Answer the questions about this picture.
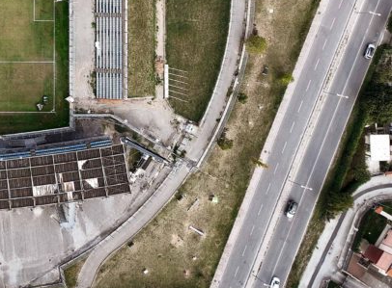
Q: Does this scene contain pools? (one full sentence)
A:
No, I can't see a single pool in this photo.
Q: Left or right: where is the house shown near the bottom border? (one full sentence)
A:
The house shown near the bottom border sits on the right side.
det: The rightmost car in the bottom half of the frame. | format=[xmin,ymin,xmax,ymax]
[284,200,297,218]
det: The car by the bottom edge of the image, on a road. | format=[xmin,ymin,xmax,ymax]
[268,276,280,288]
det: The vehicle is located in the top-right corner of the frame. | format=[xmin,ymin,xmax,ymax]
[364,43,376,59]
